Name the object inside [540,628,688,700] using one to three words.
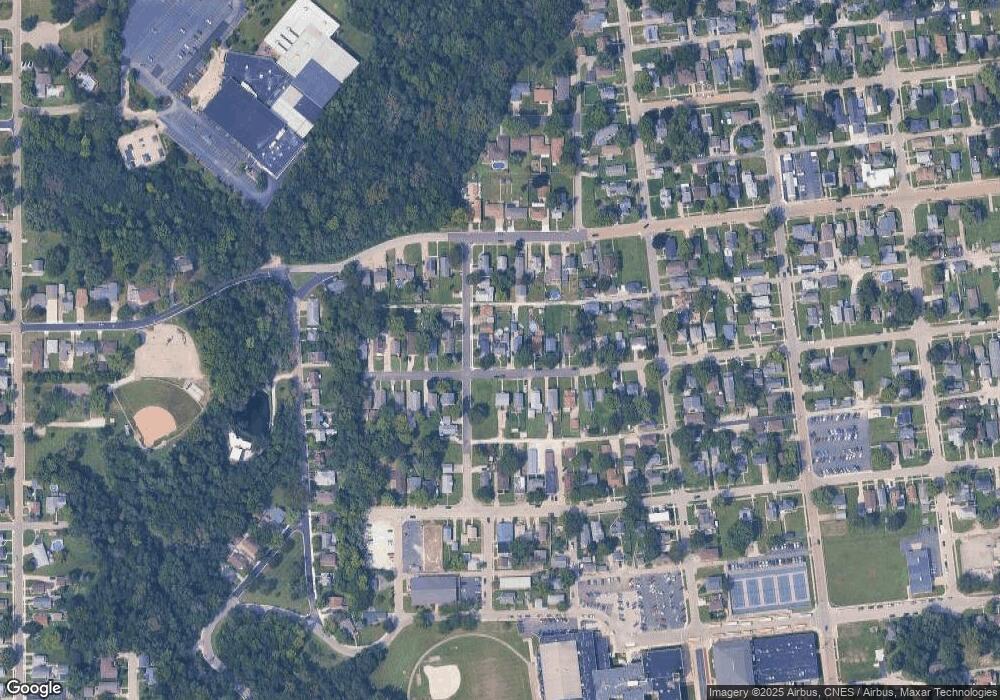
building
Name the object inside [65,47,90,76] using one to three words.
house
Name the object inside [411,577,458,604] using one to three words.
building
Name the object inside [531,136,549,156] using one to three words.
house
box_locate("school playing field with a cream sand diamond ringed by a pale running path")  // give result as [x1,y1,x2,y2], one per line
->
[411,638,532,700]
